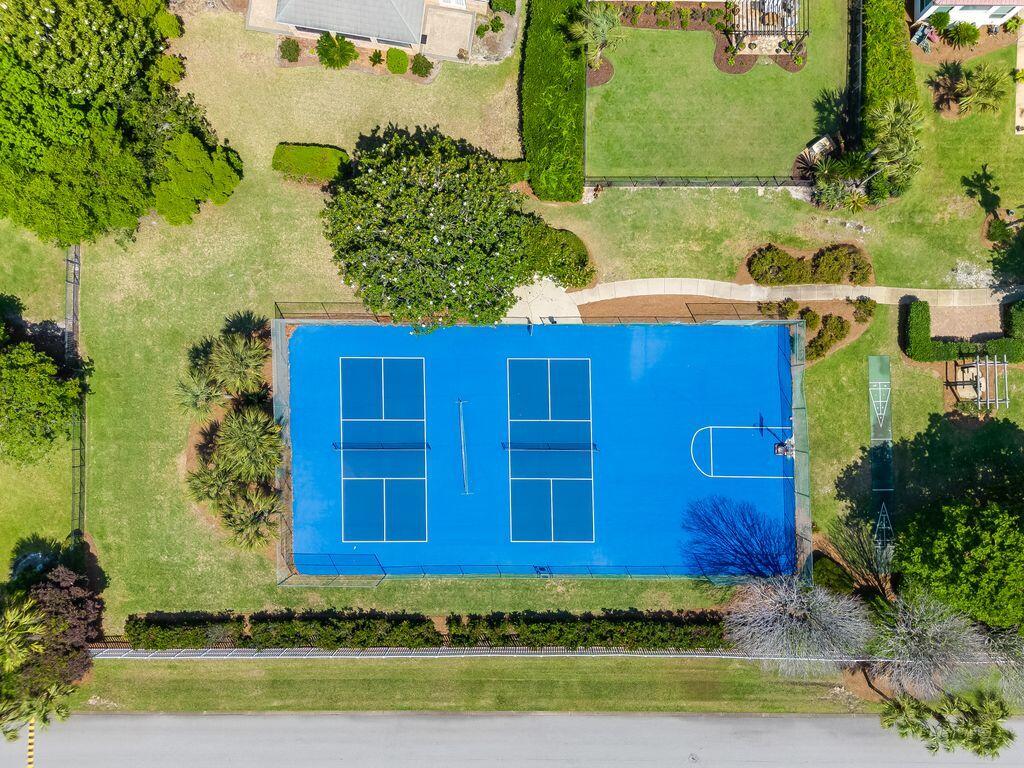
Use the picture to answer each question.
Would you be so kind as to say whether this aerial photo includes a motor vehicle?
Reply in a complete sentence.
No, the picture doesn't show any motor vehicle.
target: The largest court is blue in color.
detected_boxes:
[289,325,798,576]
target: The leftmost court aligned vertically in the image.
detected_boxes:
[339,357,428,543]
